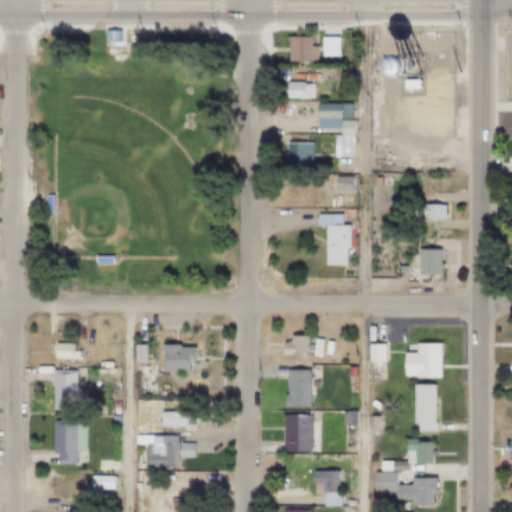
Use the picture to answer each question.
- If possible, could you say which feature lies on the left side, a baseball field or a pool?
baseball field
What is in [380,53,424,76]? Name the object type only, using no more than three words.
water tower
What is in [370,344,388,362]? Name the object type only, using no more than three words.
building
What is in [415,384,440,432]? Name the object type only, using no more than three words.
house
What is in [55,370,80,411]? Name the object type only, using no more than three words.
house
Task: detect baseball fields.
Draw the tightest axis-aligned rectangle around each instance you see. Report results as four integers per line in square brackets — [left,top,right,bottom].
[58,92,218,257]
